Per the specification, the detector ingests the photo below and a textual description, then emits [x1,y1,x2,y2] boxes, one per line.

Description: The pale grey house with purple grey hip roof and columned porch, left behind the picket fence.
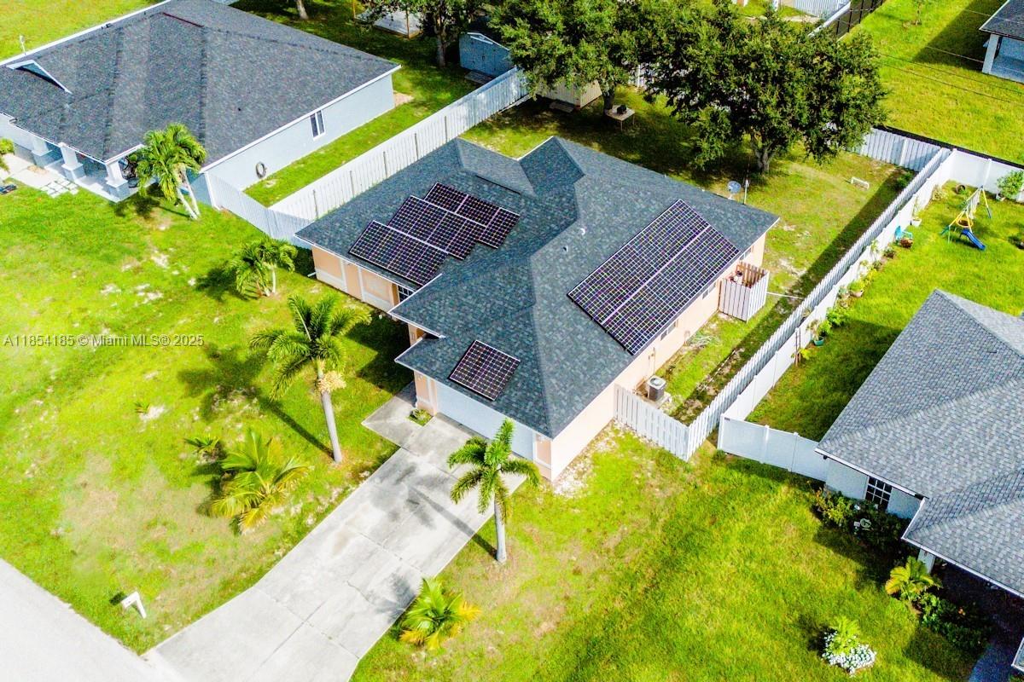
[0,0,402,210]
